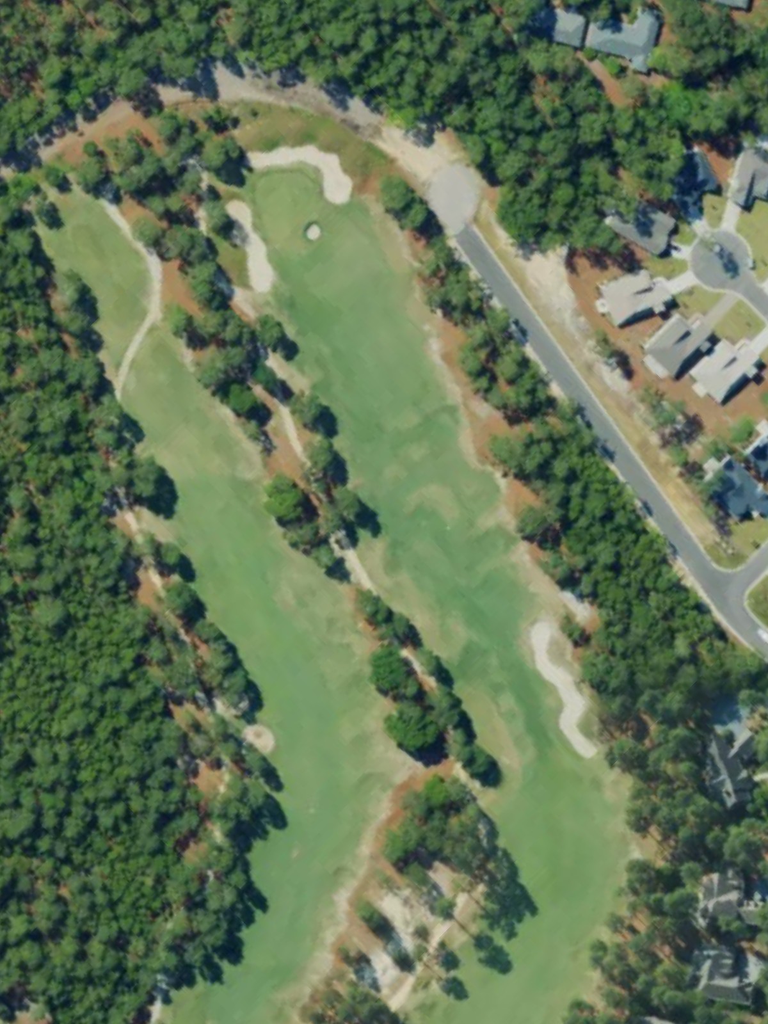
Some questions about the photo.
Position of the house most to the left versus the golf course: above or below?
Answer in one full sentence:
The house most to the left is above the golf course.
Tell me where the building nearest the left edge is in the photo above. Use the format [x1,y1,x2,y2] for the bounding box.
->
[553,7,585,45]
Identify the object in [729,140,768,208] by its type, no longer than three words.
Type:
house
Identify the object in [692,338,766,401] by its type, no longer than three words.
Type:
house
